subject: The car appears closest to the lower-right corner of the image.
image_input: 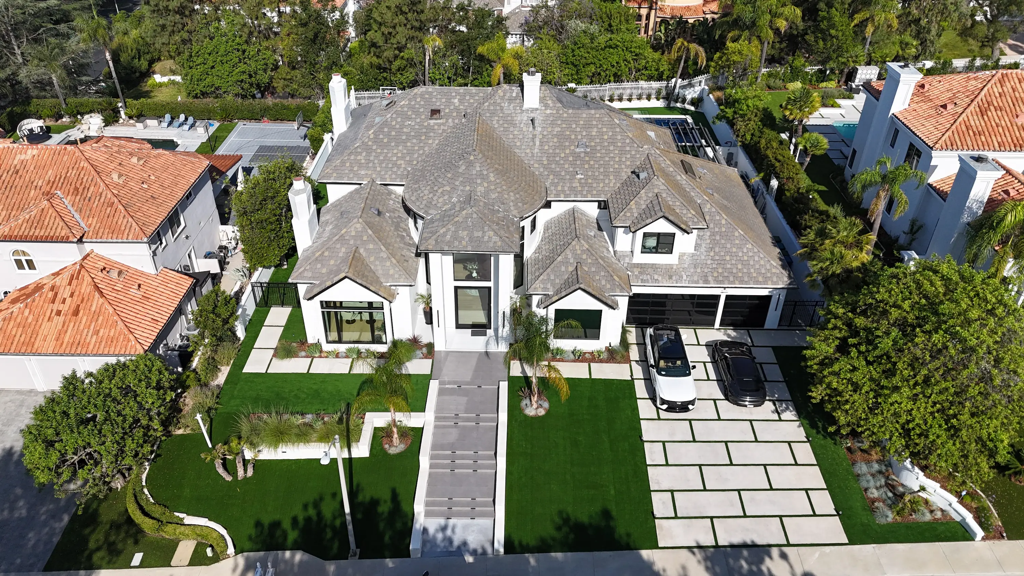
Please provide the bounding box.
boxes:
[712,336,770,408]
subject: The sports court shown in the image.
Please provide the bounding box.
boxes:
[214,121,309,189]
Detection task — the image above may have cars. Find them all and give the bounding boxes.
[645,327,699,408]
[712,336,770,408]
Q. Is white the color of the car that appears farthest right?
No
